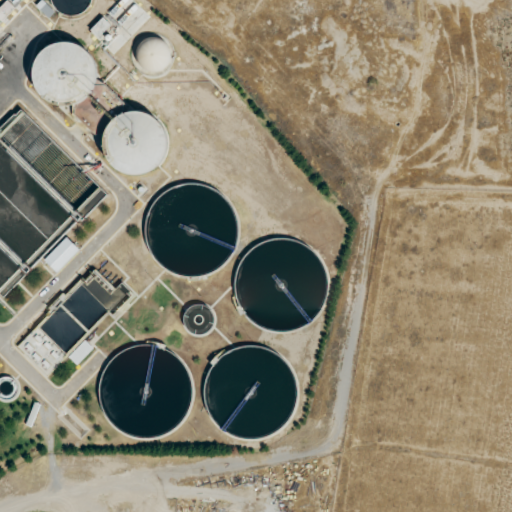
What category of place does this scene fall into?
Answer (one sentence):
The picture captures an industrial area.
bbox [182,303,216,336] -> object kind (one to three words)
storage tank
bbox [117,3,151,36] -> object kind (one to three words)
building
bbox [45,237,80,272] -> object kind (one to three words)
building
